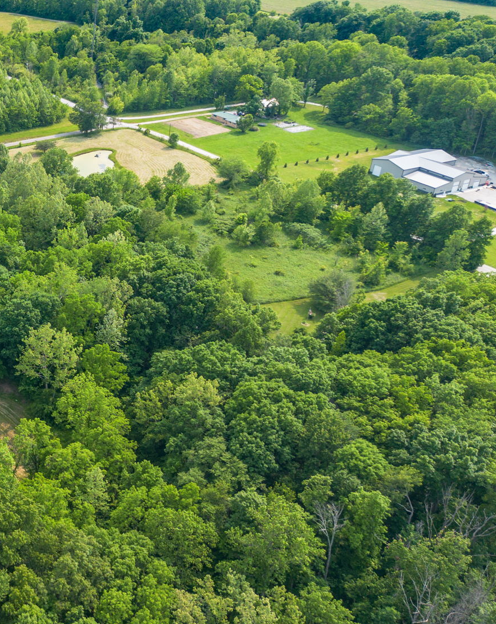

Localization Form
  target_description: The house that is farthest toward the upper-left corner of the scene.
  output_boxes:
[211,110,242,129]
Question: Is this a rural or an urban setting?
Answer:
rural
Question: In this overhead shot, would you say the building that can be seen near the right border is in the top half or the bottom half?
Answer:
top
